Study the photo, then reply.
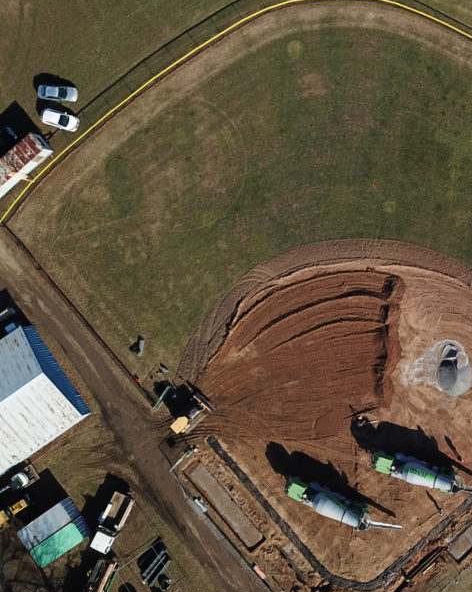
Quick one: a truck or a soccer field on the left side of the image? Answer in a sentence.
You can see a truck on the left side of the image.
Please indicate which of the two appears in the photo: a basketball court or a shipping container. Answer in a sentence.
There is a shipping container in the scene.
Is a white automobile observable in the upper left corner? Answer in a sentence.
Yes, there is a white automobile in the upper left corner.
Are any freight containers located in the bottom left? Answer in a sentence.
Yes, in the bottom left there is a freight container.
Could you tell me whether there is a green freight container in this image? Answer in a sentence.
Yes, this view includes a green freight container.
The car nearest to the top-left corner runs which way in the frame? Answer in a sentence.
From this overhead view, the car nearest to the top-left corner appears to run from side to side.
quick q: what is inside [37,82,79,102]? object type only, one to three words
car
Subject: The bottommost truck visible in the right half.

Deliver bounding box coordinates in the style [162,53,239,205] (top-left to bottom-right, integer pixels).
[279,470,403,533]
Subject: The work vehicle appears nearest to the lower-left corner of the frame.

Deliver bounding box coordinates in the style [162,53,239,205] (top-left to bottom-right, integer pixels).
[0,491,36,525]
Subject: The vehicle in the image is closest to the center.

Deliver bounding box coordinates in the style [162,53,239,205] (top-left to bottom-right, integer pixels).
[168,391,215,439]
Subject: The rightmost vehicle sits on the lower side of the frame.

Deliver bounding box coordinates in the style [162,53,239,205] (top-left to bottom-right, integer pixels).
[369,444,472,491]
